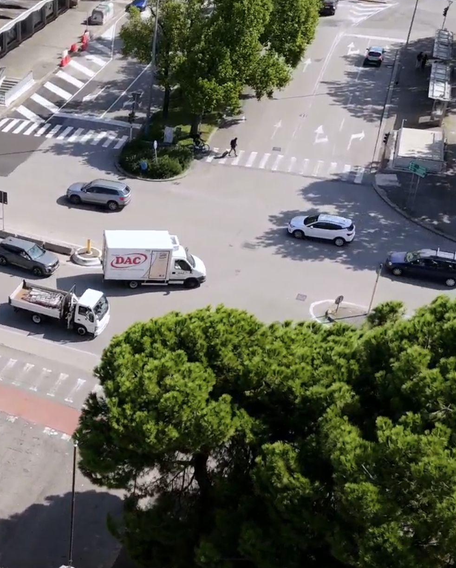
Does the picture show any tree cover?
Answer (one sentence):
Yes, the picture does contain tree cover.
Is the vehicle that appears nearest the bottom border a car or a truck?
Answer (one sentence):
In the photo, the vehicle that appears nearest the bottom border shows up as a truck.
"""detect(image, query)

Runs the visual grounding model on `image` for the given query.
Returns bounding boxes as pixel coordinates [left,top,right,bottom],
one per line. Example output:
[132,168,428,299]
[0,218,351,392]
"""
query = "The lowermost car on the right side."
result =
[385,246,456,283]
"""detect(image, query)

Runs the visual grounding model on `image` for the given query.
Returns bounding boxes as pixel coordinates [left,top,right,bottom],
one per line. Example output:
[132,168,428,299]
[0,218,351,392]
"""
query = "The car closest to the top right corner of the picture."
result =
[365,42,390,65]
